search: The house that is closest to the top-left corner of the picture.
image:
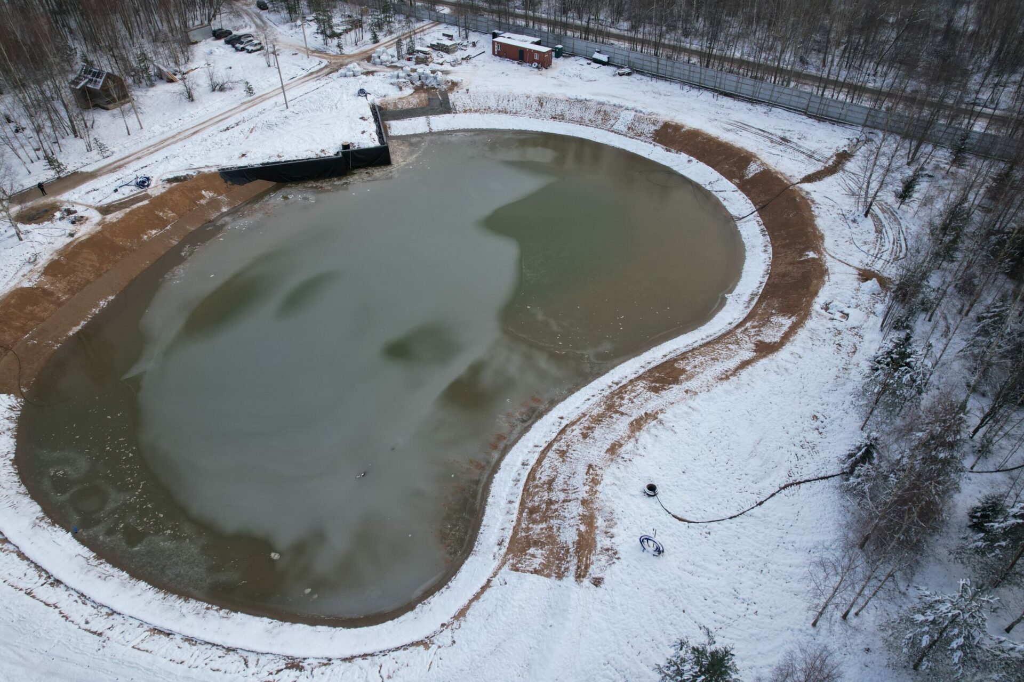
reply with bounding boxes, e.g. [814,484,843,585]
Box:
[68,61,141,111]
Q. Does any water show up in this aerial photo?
Yes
